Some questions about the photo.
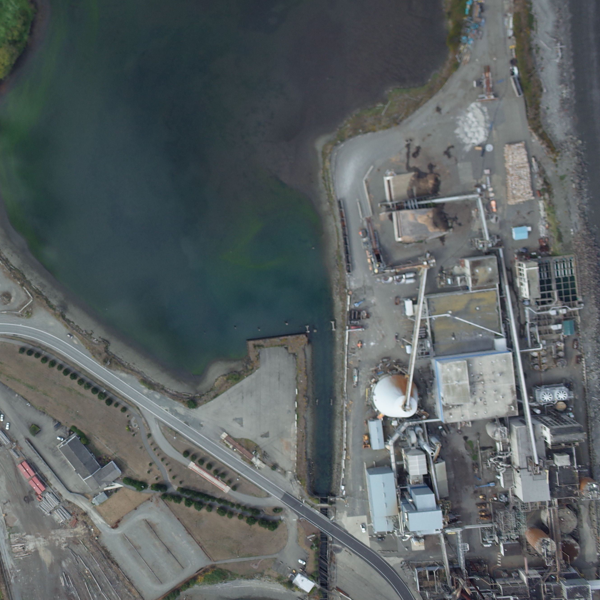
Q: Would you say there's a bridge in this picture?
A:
Yes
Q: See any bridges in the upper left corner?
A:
No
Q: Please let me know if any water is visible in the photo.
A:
Yes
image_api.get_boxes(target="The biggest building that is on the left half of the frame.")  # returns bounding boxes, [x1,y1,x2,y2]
[56,432,120,487]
